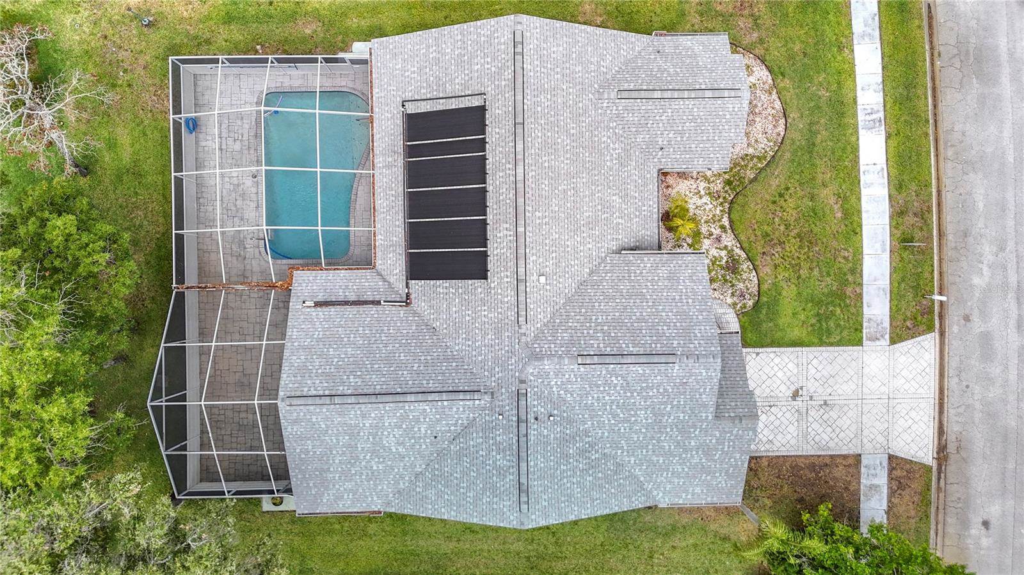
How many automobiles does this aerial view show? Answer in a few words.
0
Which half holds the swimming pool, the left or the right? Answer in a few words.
left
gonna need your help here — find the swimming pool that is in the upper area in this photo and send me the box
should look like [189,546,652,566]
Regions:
[265,91,369,259]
